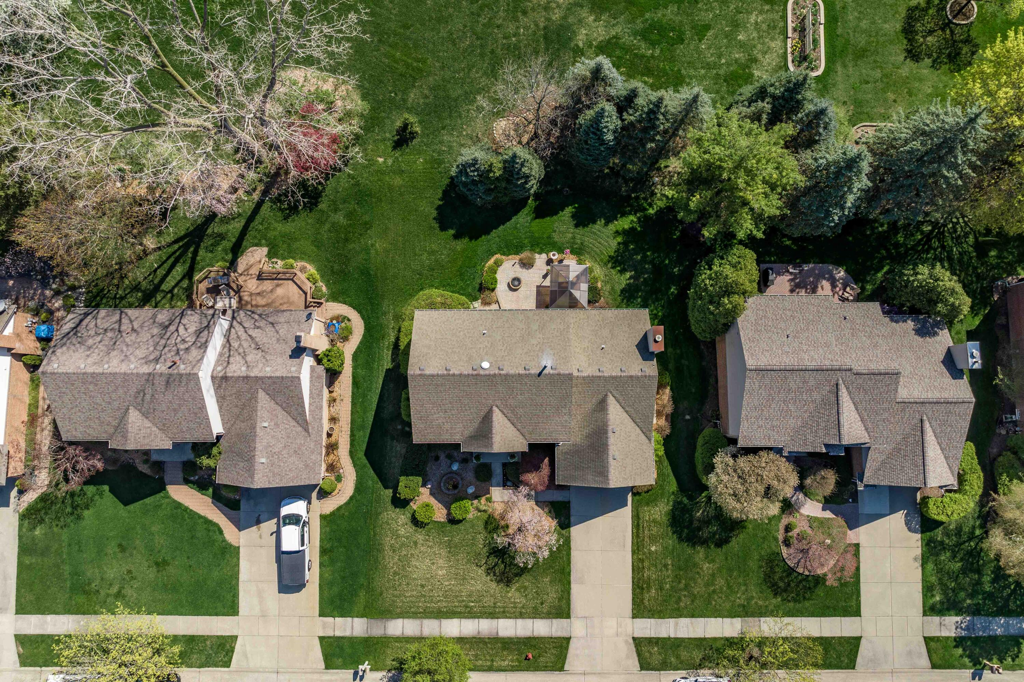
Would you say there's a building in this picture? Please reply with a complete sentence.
Yes, this view includes a building.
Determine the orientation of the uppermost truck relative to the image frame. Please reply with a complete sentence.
What the image shows is the uppermost truck lying up and down.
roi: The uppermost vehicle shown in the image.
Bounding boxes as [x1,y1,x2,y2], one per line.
[272,496,310,588]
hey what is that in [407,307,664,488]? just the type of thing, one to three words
house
